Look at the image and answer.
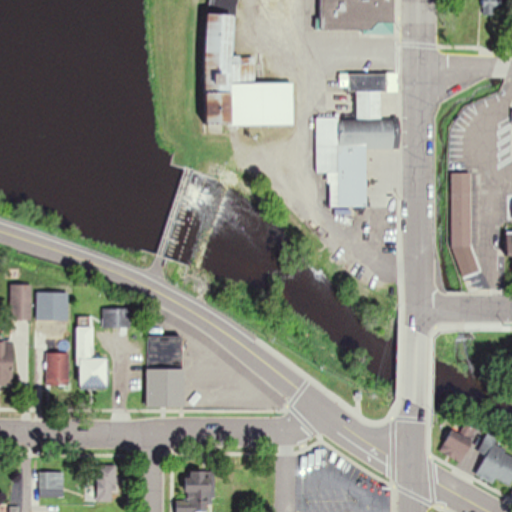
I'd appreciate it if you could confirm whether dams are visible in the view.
Yes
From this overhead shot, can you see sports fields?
No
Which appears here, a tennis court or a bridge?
bridge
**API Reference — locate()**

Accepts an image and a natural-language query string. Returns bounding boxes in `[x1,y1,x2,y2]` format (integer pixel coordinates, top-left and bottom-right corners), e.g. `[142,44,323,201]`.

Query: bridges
[396,328,435,400]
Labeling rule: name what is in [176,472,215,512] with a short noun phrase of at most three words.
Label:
house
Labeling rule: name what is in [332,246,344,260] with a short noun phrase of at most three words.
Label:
vehicle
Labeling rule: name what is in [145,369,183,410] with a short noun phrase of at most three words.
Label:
building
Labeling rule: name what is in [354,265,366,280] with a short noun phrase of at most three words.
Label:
vehicle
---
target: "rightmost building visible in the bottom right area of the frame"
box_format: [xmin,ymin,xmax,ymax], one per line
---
[477,432,512,493]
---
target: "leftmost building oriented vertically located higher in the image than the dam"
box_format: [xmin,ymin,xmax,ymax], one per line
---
[206,0,255,124]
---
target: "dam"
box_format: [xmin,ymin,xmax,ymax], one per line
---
[139,153,228,275]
